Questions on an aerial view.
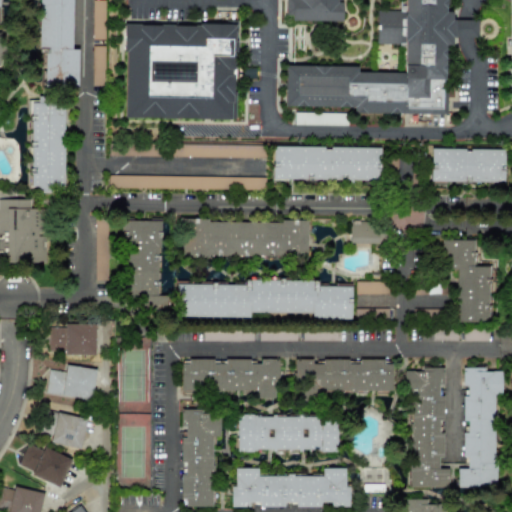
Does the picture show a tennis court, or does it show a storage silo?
tennis court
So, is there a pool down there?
Yes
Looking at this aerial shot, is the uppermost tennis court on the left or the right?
left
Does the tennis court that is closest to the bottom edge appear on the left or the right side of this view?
left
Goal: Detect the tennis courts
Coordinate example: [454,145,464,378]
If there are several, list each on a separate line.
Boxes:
[119,414,151,488]
[119,347,151,412]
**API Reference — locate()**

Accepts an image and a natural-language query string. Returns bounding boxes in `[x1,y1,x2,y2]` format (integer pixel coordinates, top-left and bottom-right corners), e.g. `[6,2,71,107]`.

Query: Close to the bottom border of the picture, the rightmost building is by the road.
[460,368,504,488]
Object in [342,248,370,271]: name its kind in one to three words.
swimming pool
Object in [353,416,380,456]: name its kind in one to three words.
swimming pool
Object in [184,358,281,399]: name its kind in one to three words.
building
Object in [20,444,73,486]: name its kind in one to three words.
house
